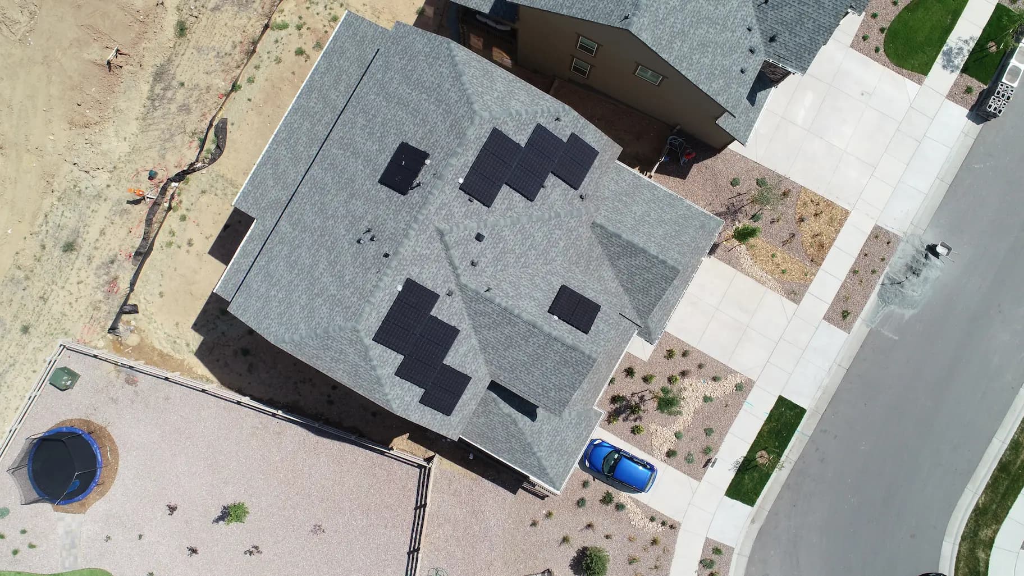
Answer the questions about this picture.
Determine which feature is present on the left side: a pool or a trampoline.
trampoline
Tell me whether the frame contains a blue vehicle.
Yes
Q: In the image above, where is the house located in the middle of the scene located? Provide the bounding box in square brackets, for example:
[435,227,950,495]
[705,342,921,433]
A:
[212,9,726,496]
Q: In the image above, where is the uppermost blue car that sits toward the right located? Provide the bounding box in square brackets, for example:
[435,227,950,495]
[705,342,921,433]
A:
[584,439,663,500]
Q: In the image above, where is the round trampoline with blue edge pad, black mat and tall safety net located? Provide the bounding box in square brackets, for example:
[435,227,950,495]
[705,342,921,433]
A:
[6,424,113,509]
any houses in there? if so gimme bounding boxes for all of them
[453,0,868,153]
[212,9,726,496]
